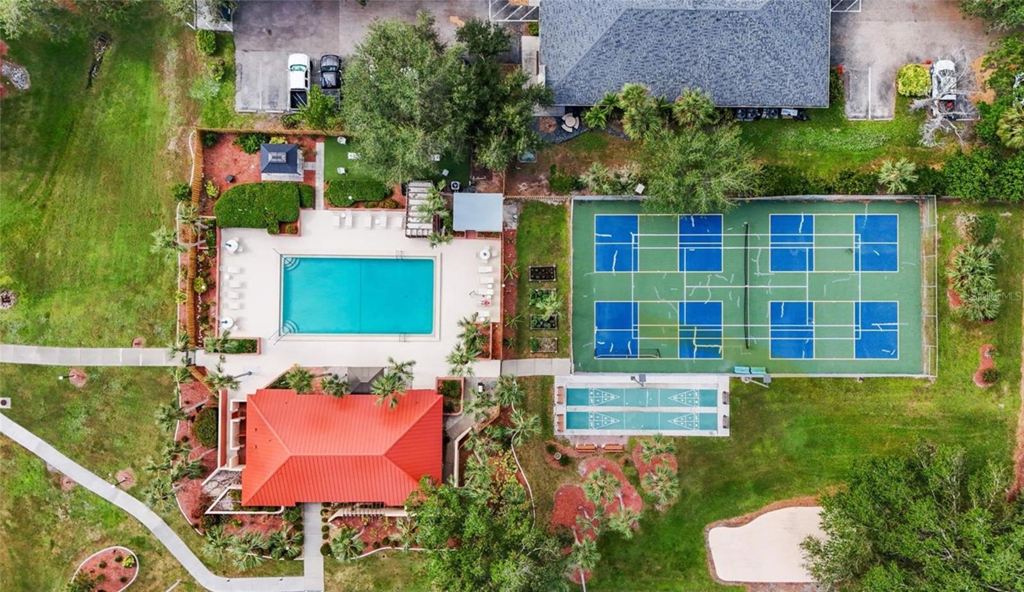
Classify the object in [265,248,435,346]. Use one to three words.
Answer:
swimming pool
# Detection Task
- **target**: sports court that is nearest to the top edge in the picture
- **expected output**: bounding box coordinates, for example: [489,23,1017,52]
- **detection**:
[572,200,924,375]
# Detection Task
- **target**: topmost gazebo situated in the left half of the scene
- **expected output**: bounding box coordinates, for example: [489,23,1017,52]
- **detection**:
[260,144,300,173]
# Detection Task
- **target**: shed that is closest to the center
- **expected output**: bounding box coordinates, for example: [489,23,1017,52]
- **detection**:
[453,193,503,232]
